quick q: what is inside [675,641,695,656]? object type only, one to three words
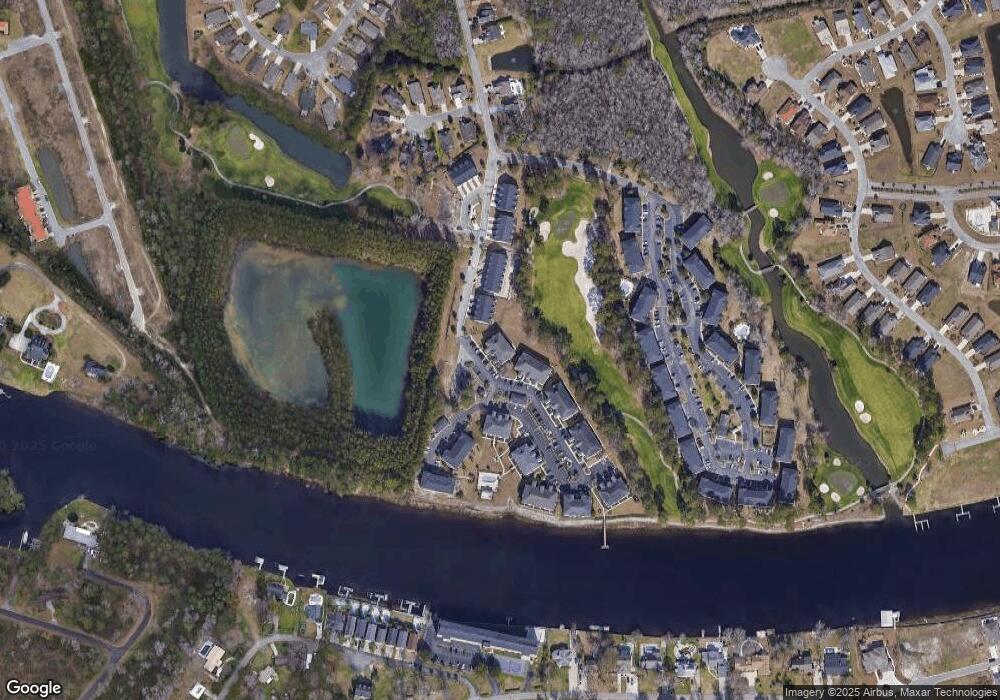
swimming pool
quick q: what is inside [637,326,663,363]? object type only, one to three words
building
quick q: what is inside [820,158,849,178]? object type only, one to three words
house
